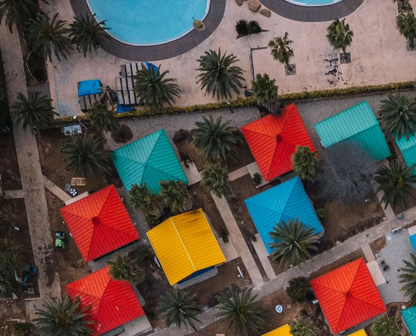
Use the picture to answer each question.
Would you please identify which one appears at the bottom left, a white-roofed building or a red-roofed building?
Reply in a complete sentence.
There is a red-roofed building at the bottom left.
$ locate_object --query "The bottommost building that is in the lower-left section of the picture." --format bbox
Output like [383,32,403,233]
[65,261,148,336]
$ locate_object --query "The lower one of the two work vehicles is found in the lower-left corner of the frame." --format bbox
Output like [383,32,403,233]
[20,265,40,291]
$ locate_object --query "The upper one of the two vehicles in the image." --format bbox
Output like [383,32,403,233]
[50,232,65,251]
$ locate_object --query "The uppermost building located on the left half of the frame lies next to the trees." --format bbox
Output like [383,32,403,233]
[113,128,191,199]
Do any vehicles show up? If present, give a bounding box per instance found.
[20,265,40,291]
[50,232,65,251]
